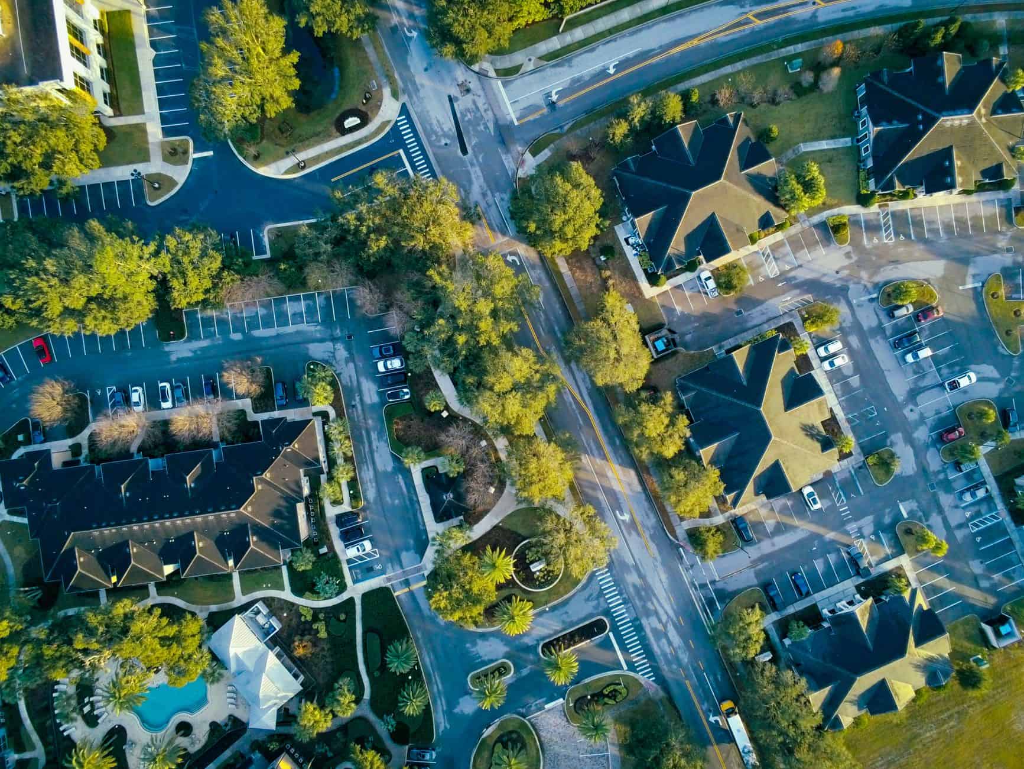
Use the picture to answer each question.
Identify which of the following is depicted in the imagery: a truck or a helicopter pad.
truck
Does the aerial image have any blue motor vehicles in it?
Yes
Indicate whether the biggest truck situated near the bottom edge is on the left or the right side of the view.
right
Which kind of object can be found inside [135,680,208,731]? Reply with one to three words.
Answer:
swimming pool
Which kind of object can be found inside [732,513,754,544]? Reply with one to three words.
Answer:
truck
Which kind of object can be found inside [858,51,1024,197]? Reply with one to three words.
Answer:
building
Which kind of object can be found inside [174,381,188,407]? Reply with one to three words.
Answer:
car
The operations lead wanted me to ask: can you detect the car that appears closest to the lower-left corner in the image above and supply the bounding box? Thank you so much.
[30,420,45,442]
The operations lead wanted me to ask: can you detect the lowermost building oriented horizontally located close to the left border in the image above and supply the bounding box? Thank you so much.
[0,415,326,592]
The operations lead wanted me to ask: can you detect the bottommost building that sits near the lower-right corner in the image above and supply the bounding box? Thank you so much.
[785,586,956,730]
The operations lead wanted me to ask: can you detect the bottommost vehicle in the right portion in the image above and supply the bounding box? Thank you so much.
[718,694,760,768]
